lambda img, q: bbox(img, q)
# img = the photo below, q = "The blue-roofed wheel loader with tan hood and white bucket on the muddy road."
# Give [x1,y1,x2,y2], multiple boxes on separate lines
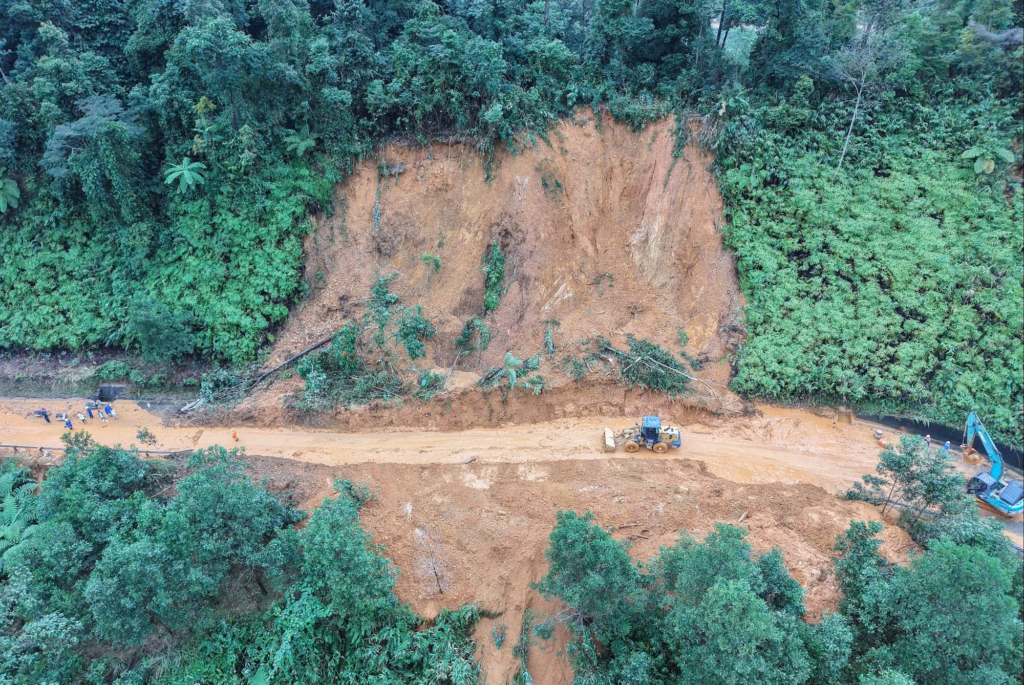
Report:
[603,417,683,456]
